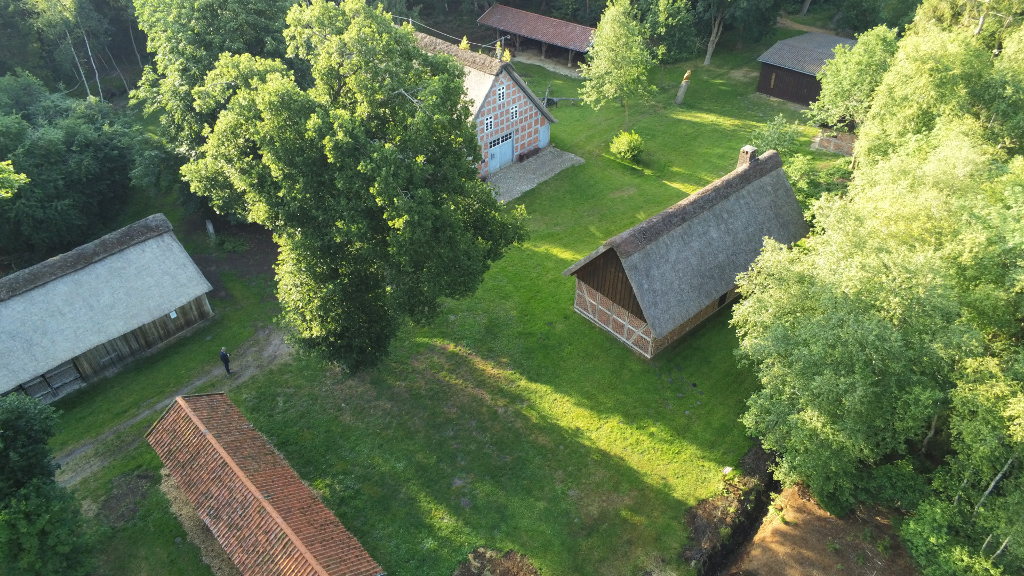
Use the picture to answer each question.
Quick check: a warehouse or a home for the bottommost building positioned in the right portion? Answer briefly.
home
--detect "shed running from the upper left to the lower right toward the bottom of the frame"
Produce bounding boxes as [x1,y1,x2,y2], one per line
[143,391,391,576]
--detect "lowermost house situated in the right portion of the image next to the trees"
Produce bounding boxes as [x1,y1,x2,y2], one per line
[561,149,809,360]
